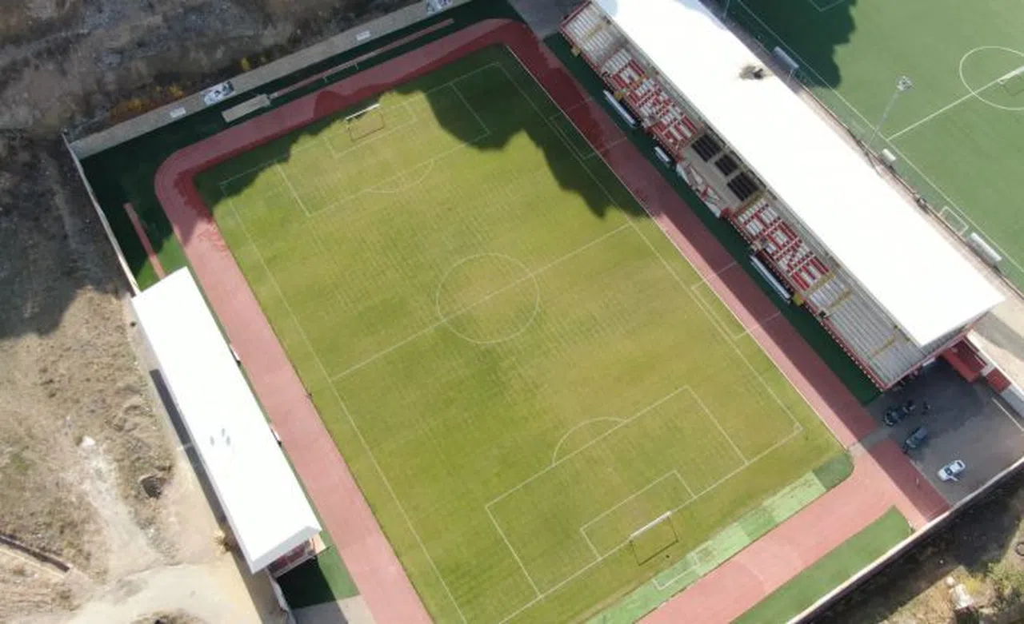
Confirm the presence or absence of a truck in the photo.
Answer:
No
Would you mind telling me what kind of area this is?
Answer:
sports ground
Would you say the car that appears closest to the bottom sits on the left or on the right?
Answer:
right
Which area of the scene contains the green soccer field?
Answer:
top right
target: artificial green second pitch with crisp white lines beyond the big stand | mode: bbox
[712,0,1024,297]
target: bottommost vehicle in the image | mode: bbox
[937,461,966,483]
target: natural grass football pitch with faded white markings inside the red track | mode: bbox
[197,42,850,624]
